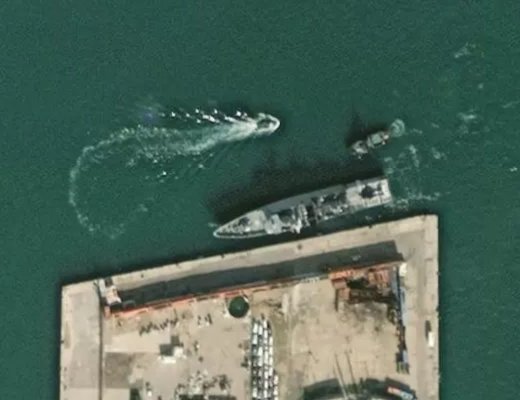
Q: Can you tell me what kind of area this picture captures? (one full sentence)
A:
The area seen from above is a port.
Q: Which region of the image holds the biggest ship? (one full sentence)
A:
The biggest ship is located in the center region of the scene.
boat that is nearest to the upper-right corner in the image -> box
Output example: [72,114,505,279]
[349,130,389,156]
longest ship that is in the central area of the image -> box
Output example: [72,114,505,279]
[213,175,394,240]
